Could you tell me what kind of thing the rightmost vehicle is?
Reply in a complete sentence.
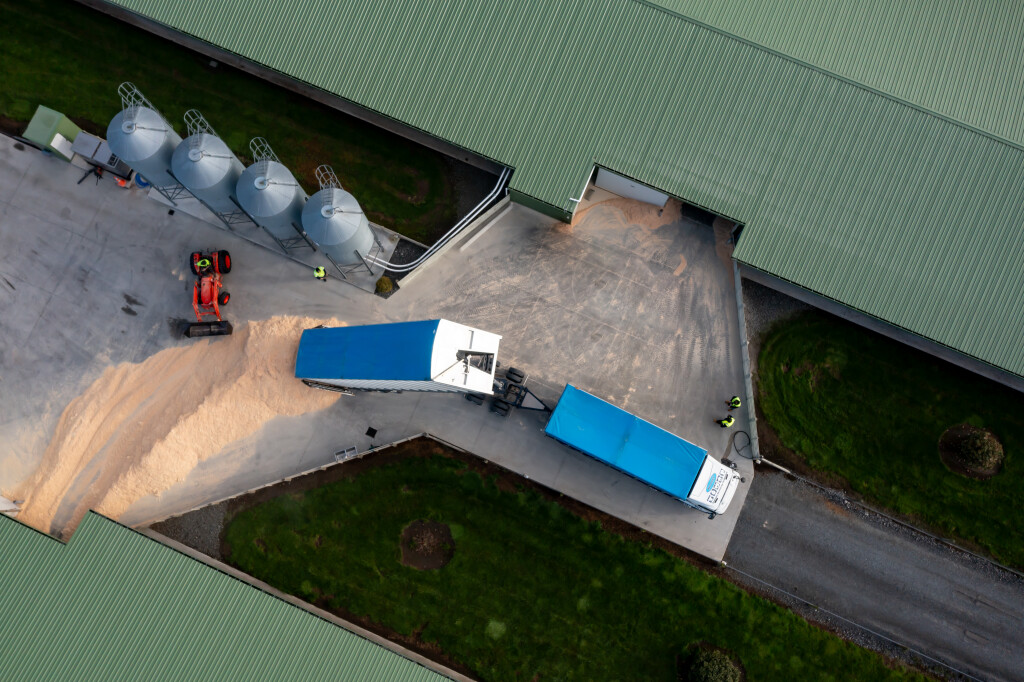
Specifically, the rightmost vehicle is a truck.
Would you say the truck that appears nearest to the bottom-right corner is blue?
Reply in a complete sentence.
Yes, the truck that appears nearest to the bottom-right corner is indeed blue.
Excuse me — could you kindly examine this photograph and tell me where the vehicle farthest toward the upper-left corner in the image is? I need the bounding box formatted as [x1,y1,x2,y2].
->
[186,249,235,336]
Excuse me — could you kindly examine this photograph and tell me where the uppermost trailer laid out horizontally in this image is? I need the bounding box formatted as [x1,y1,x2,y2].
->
[297,319,555,415]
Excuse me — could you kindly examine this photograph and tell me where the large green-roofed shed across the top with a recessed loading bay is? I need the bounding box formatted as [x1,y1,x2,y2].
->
[61,0,1024,397]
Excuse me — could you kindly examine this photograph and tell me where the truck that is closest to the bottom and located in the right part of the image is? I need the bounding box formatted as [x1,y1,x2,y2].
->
[540,384,752,526]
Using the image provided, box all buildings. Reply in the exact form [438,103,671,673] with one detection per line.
[61,0,1024,397]
[0,492,480,682]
